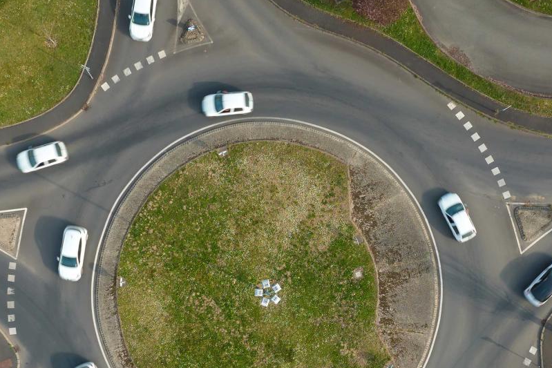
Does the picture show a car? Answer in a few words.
Yes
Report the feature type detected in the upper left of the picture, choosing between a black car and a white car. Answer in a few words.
white car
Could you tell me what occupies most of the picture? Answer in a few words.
paved ground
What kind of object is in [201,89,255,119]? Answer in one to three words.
car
